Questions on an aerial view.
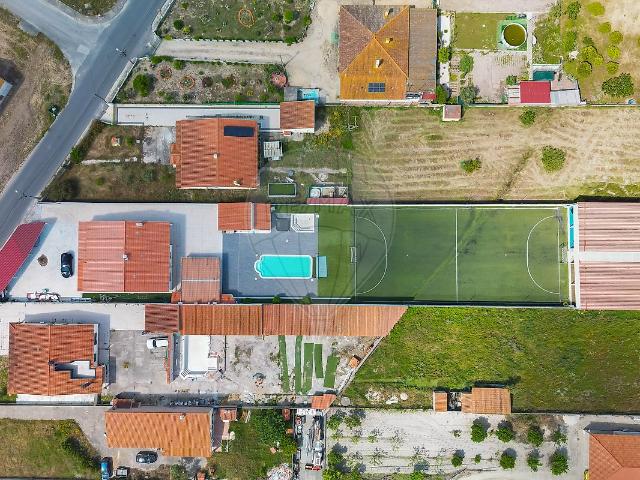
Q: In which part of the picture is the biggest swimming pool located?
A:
center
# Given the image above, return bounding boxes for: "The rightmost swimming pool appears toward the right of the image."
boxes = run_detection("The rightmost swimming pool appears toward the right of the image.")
[532,65,562,81]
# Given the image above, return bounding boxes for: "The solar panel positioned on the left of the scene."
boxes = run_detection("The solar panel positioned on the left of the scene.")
[223,125,255,138]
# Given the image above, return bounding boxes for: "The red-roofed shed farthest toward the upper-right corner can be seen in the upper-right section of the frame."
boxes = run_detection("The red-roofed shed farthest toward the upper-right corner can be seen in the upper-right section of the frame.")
[518,81,550,104]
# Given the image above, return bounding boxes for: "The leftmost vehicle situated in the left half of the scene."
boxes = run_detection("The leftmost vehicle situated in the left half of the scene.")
[59,252,75,278]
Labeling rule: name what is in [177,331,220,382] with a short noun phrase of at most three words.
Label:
house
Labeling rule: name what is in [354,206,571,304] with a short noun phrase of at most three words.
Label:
soccer field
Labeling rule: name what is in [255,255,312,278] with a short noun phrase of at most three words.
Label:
swimming pool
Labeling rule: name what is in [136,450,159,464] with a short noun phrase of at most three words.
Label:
car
